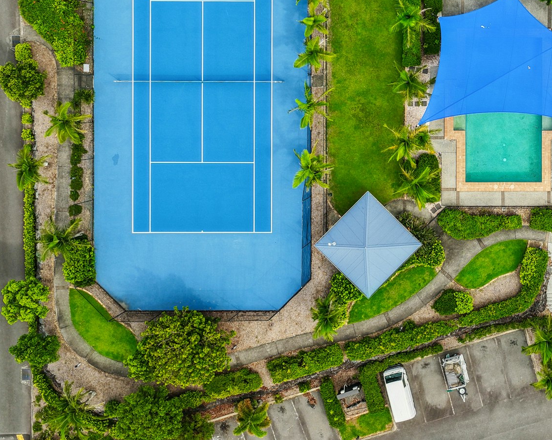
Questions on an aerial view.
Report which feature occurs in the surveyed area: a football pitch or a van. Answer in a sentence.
Looking from above, you can make out a van.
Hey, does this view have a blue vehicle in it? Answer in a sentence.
No, there's no blue vehicle here.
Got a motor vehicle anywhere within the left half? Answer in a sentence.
No, I see no motor vehicle within the left half.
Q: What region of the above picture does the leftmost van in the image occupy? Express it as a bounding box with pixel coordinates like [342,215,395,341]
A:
[381,360,415,429]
